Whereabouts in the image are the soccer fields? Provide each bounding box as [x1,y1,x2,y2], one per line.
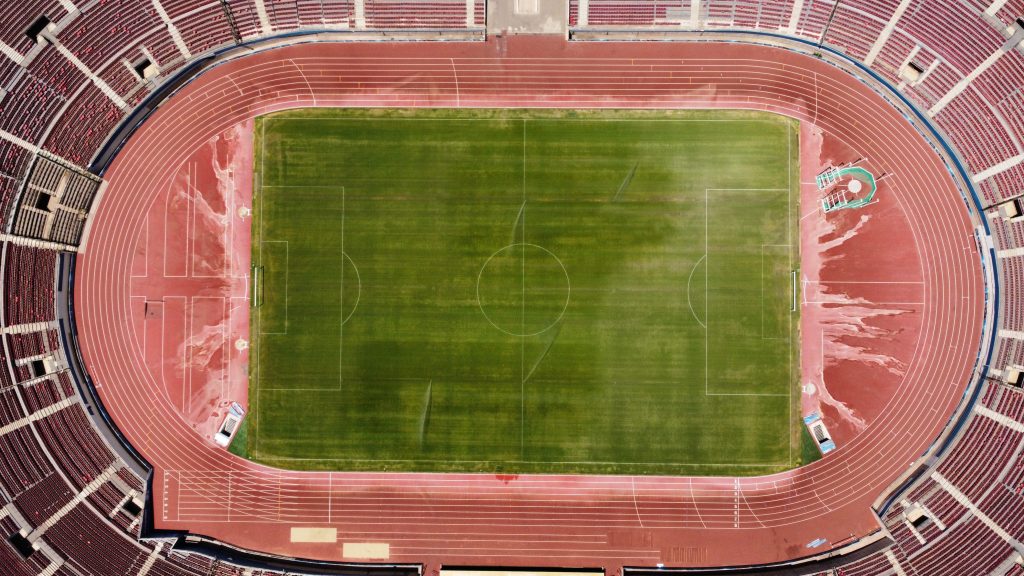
[228,107,823,477]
